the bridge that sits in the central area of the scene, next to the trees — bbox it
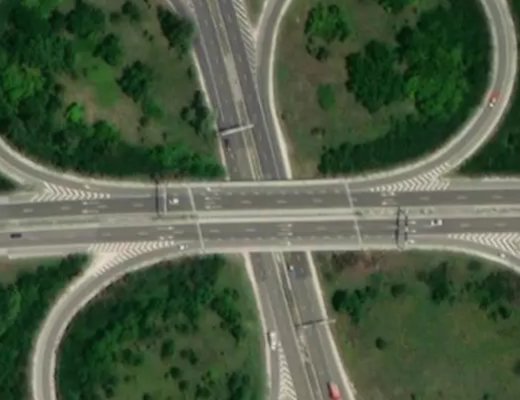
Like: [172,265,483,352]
[188,178,362,254]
